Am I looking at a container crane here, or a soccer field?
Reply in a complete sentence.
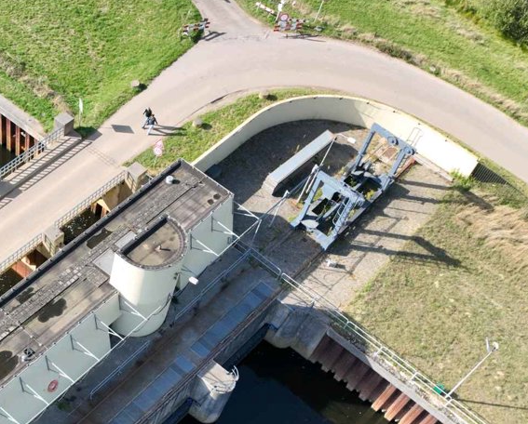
Visible in the photo is a container crane.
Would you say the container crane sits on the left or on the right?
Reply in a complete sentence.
The container crane sits on the right side.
